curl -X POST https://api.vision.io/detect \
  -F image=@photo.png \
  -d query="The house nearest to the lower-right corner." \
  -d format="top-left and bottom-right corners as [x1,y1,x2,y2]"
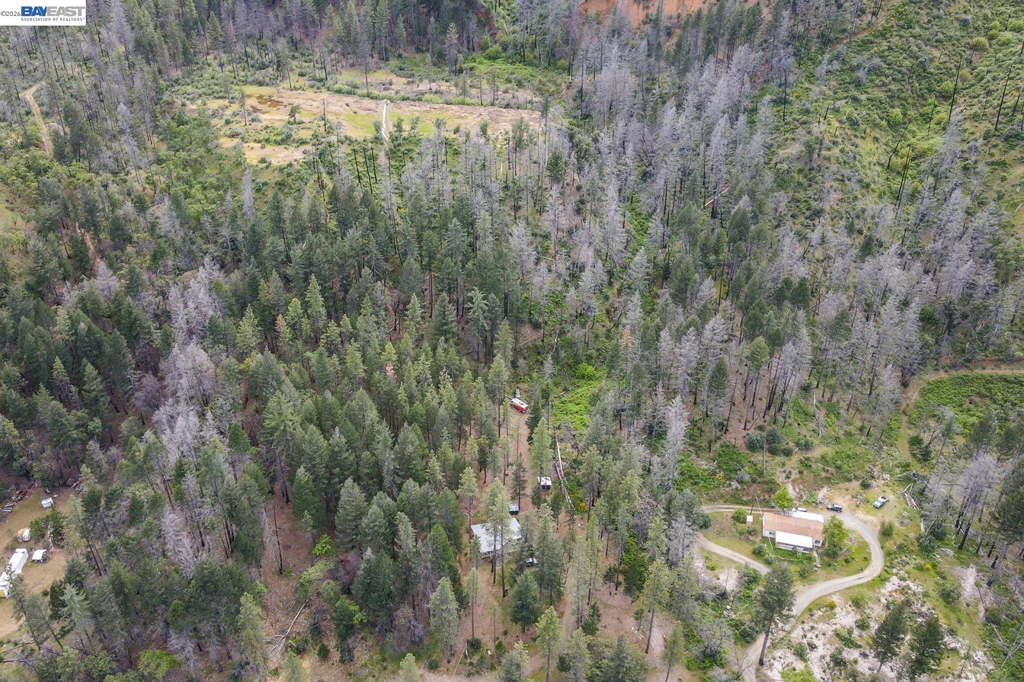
[763,507,827,563]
